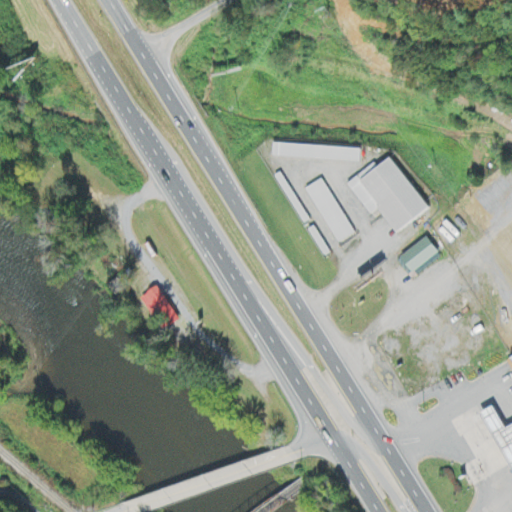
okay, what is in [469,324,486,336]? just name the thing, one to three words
vehicle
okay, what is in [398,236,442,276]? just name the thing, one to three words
building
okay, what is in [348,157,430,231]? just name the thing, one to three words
building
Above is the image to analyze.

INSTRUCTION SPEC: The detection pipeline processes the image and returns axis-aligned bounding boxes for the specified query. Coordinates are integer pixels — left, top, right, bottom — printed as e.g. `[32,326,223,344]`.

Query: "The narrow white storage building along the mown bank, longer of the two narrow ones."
[276,171,310,221]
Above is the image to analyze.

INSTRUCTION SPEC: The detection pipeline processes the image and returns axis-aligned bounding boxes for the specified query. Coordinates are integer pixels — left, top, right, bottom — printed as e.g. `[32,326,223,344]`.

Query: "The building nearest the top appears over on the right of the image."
[272,142,362,161]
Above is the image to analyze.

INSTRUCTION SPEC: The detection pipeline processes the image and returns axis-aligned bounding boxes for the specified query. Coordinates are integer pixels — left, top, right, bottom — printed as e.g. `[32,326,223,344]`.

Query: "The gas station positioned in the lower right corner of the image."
[481,406,512,461]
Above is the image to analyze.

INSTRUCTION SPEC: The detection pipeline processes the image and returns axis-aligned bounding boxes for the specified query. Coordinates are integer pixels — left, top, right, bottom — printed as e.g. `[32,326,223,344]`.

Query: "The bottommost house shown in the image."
[141,286,180,328]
